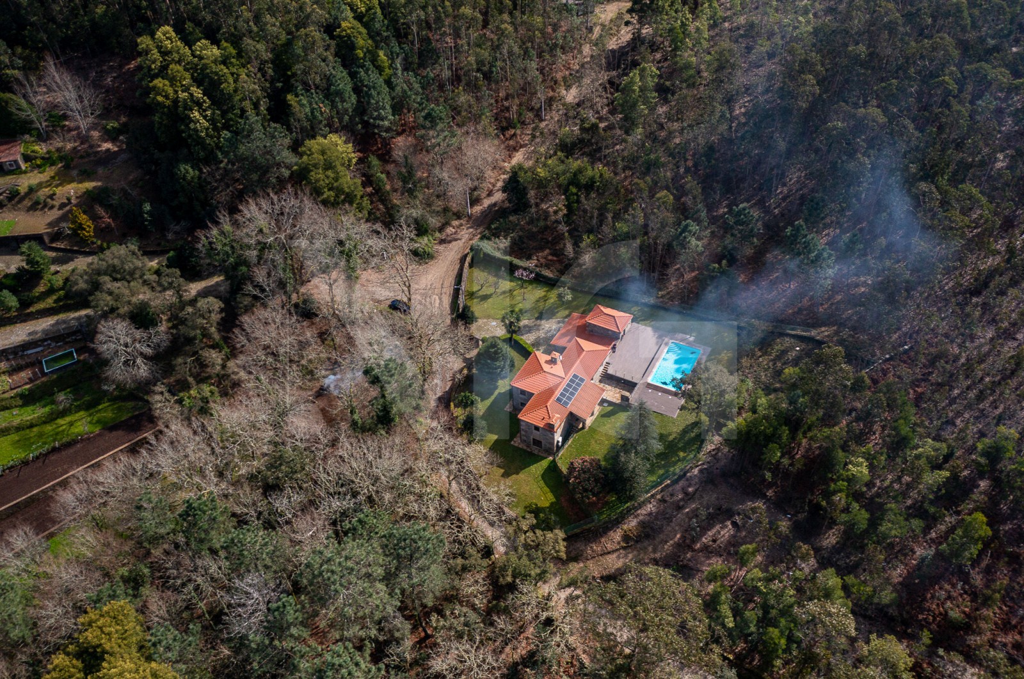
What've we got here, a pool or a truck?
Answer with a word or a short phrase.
pool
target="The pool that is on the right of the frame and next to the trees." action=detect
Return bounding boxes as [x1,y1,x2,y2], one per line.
[646,339,702,397]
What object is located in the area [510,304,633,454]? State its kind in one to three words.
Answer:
house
